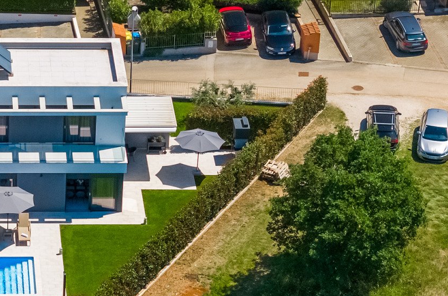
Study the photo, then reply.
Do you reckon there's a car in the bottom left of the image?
No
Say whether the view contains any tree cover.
Yes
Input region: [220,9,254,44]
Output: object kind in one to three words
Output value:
car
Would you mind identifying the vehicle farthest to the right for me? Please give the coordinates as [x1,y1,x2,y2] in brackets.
[418,111,448,161]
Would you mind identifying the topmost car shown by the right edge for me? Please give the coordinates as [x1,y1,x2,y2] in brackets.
[389,14,434,51]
